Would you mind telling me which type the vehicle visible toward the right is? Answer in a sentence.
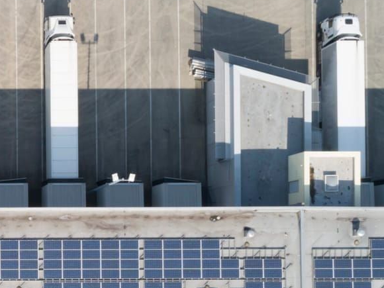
Looking closely, the vehicle visible toward the right is a truck.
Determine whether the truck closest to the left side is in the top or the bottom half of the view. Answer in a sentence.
Seen from above, the truck closest to the left side lies in the top half of the view.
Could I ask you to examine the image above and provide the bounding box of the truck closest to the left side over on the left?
[42,17,78,182]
